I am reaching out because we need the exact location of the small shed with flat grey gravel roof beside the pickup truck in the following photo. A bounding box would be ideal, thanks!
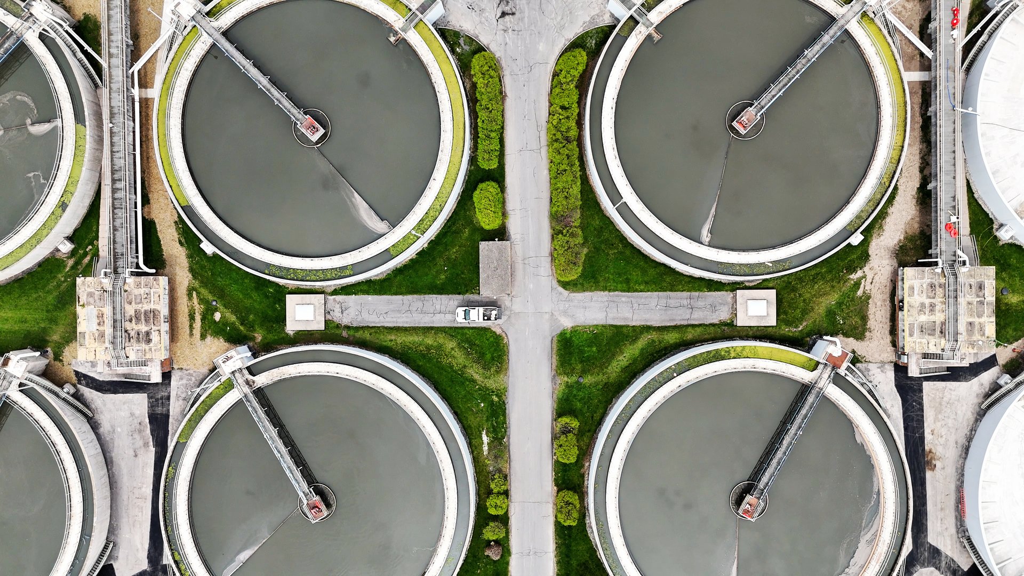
[480,237,510,299]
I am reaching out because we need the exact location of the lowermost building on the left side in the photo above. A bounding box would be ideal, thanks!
[77,276,174,372]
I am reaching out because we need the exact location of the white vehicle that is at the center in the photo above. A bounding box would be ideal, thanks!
[456,306,501,323]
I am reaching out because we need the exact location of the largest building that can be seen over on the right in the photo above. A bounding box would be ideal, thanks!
[895,266,995,366]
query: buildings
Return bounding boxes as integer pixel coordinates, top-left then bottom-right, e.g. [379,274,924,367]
[77,276,174,372]
[480,237,510,299]
[895,266,995,366]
